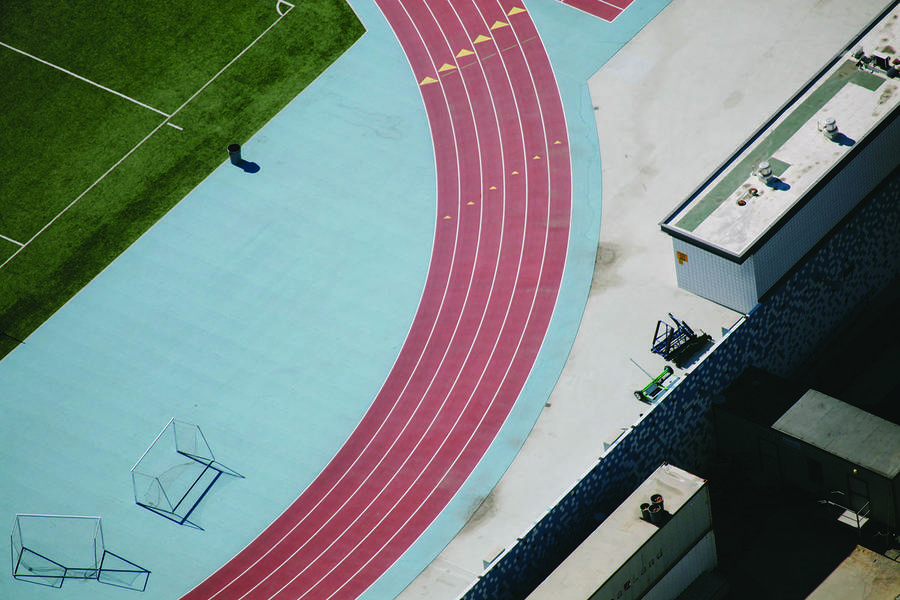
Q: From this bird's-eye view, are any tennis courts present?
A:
No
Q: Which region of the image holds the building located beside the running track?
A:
top right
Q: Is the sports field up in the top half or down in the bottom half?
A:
top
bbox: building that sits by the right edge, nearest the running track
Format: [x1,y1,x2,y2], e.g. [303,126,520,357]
[659,0,900,315]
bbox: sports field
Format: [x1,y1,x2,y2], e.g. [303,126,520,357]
[0,0,368,364]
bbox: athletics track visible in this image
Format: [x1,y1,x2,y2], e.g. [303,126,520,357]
[0,0,671,600]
